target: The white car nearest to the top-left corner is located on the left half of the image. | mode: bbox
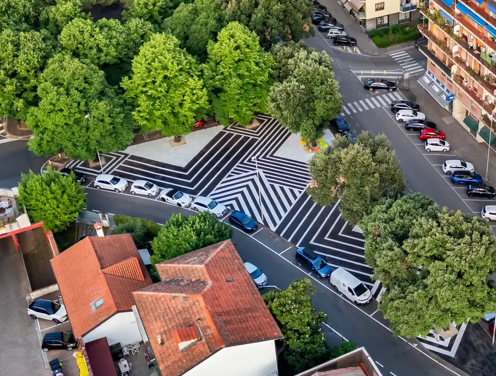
[92,172,130,195]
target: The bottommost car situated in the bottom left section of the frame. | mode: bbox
[37,331,77,354]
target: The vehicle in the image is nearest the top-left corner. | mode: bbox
[57,166,90,183]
